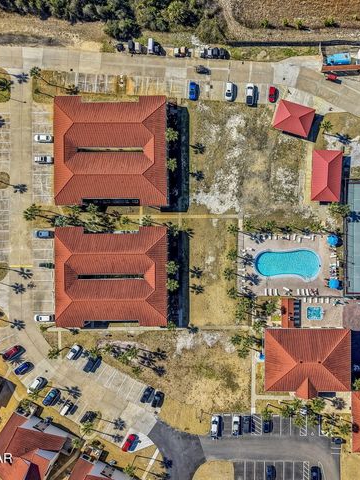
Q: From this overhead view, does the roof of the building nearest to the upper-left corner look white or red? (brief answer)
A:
red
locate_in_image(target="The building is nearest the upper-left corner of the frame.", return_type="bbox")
[52,96,168,206]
